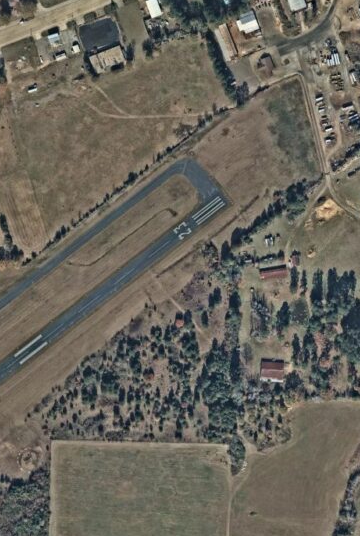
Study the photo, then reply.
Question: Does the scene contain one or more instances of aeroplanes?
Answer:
No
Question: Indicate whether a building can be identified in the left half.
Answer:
Yes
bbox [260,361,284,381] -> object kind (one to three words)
house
